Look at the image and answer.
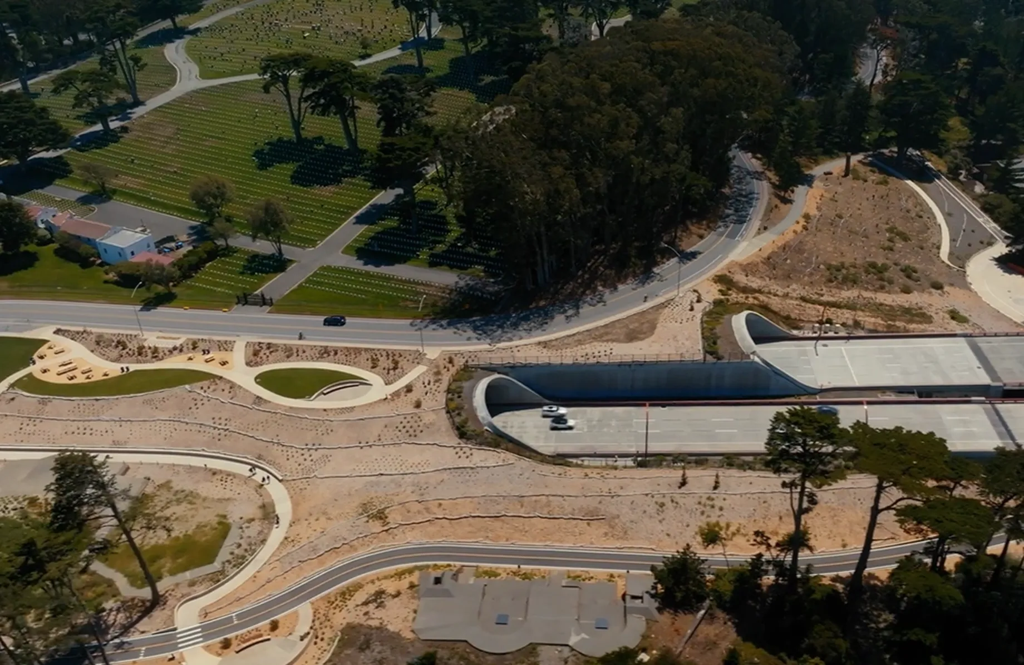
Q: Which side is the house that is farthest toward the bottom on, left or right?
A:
left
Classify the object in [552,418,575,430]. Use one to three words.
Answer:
vehicle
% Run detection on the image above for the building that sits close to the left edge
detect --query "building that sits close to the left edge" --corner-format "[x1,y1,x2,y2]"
[39,208,157,265]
